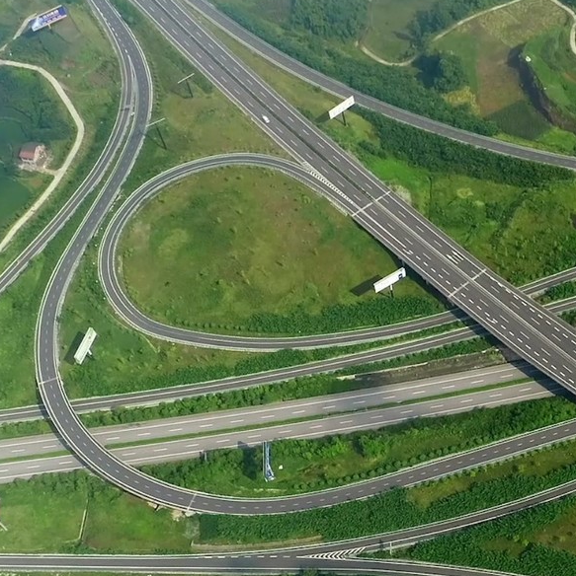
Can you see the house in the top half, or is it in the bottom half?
top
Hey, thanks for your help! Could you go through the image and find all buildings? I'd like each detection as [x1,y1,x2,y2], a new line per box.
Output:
[17,143,43,164]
